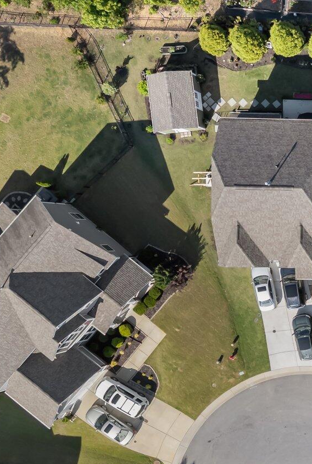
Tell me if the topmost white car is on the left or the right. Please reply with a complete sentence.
The topmost white car is on the right side of the image.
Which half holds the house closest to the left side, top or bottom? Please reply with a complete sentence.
It is in the bottom half that the house closest to the left side appears.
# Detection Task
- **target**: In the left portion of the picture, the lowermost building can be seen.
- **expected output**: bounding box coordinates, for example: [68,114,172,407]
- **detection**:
[0,194,159,430]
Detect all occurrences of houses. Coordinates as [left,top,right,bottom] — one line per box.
[0,194,159,430]
[211,116,312,280]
